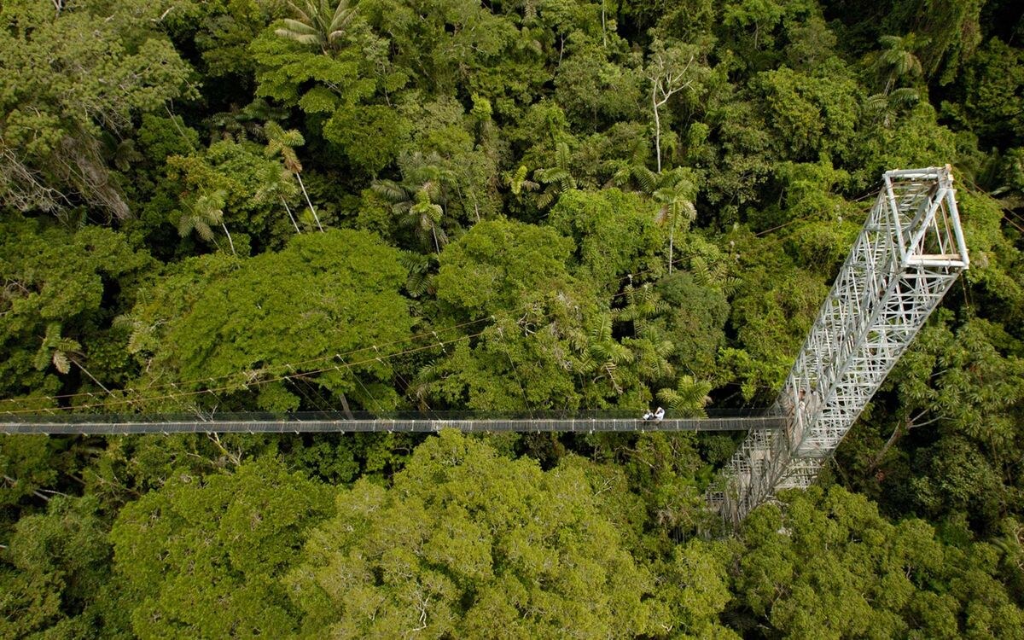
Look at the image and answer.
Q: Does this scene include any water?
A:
No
